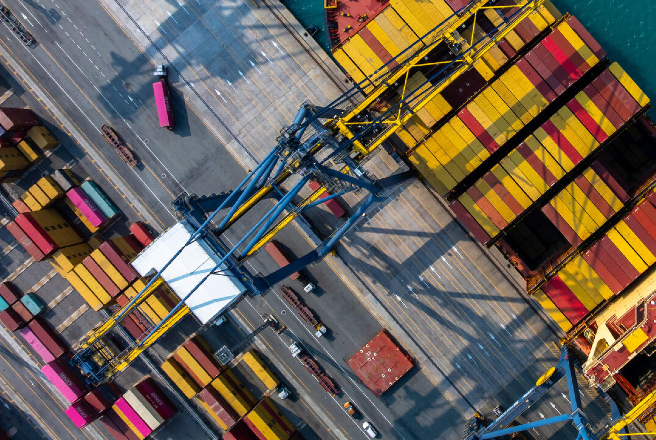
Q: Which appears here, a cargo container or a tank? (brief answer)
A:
cargo container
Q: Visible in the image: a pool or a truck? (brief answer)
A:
truck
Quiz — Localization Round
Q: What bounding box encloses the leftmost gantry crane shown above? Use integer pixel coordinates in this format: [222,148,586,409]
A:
[72,0,551,389]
